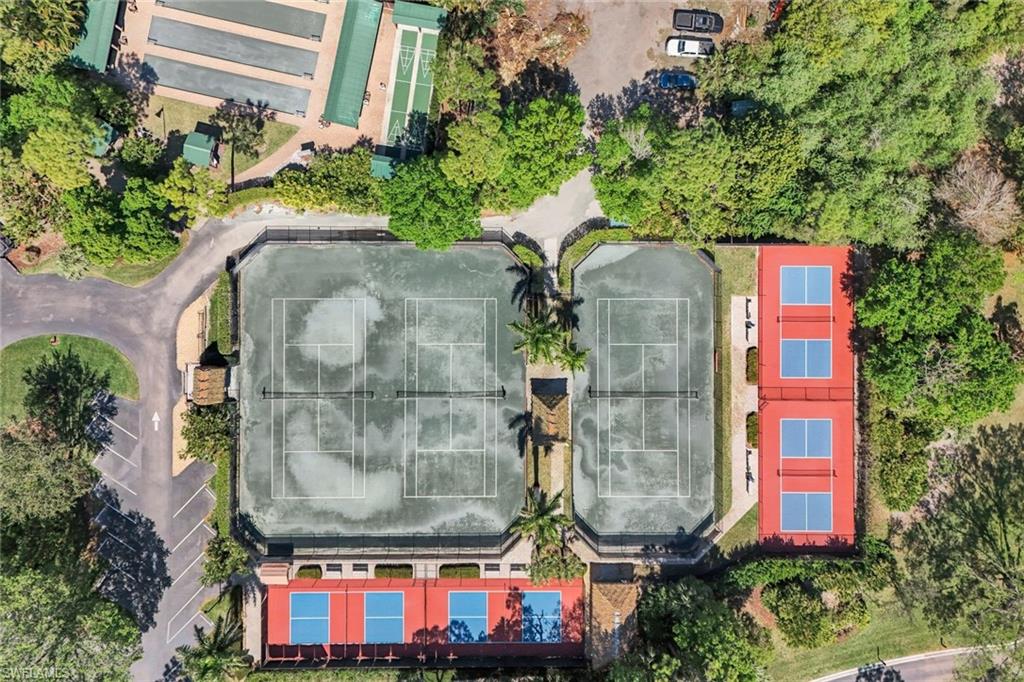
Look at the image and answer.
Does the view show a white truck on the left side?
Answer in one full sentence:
No, there is no white truck on the left side.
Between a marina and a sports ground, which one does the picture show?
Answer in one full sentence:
This looks like a sports ground.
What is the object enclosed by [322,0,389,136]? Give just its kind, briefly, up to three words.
building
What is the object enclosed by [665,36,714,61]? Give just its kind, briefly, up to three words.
truck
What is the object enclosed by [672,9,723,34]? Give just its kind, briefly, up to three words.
truck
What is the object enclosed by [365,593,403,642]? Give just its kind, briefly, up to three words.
sports court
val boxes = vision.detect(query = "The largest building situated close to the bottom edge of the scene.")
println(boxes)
[589,575,639,665]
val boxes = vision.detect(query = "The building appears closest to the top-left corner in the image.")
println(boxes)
[70,0,135,81]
